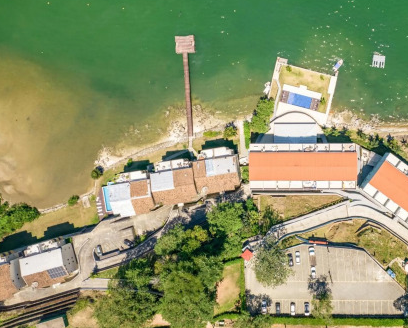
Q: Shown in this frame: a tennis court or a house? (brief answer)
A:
house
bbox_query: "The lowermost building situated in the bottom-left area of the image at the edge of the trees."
[36,310,69,328]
